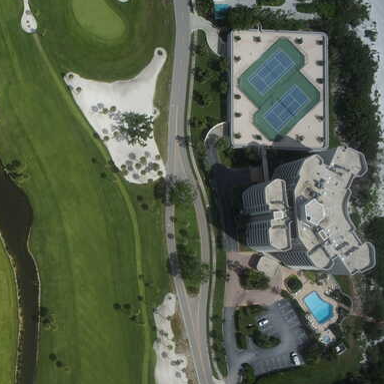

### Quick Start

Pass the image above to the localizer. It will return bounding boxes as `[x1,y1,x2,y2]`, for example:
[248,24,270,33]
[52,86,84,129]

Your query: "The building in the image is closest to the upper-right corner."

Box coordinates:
[227,29,330,153]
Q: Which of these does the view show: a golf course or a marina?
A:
golf course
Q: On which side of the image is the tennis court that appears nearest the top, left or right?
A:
right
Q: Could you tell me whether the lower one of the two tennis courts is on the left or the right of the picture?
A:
right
